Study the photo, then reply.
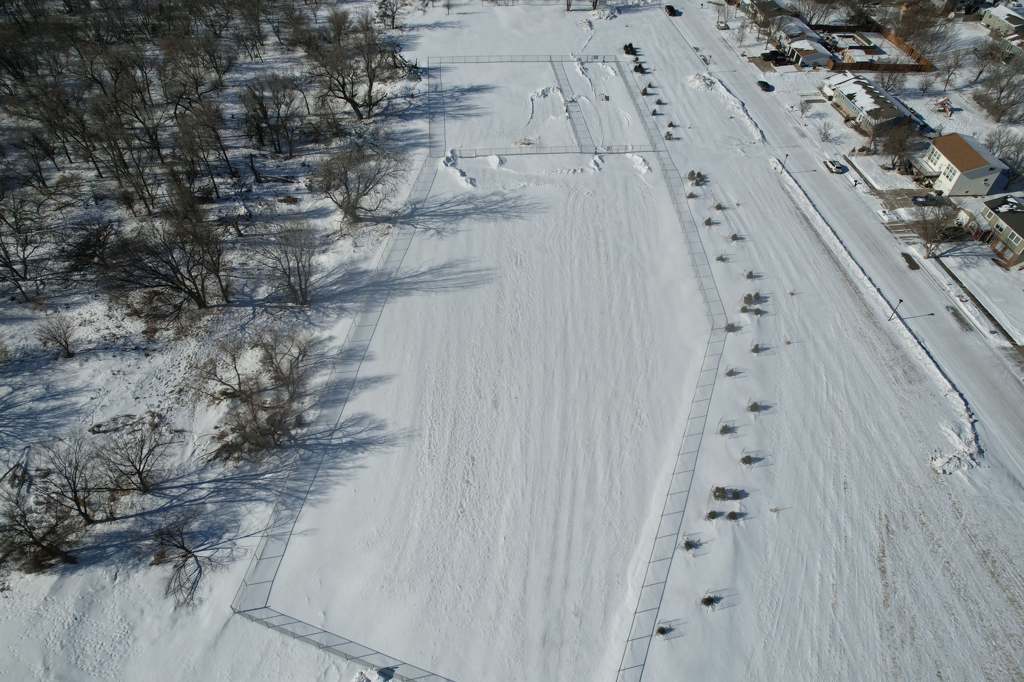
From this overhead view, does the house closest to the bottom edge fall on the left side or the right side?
right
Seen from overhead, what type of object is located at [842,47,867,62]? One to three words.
shed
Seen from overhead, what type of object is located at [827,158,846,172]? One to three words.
car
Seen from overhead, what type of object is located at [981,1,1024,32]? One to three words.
house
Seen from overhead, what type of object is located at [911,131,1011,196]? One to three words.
house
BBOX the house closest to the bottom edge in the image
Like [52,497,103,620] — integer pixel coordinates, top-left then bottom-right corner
[945,191,1024,277]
